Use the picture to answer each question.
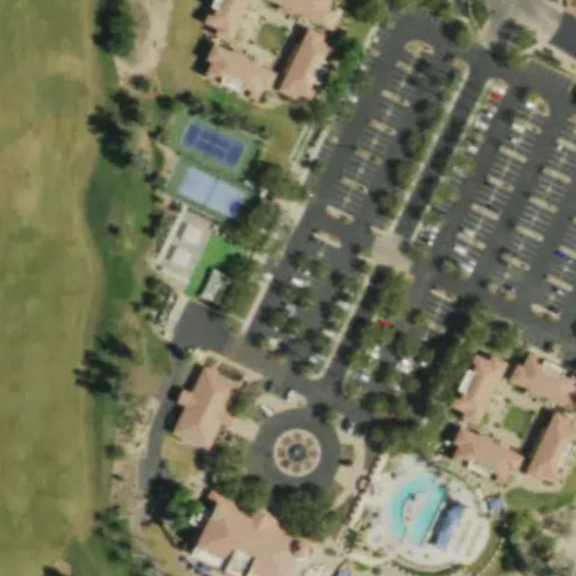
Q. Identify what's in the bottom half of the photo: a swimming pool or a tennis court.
swimming pool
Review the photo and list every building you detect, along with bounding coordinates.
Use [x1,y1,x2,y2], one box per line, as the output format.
[173,367,248,450]
[510,352,576,411]
[526,412,576,487]
[203,45,277,104]
[197,265,230,305]
[279,30,338,104]
[190,491,302,576]
[450,353,509,426]
[203,0,254,44]
[449,427,524,486]
[264,0,337,28]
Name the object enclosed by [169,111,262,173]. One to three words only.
tennis court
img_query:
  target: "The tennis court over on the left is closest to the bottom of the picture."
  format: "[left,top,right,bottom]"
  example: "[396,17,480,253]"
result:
[164,147,247,223]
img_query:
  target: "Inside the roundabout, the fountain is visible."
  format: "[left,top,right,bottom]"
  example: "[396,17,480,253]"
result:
[289,443,306,462]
